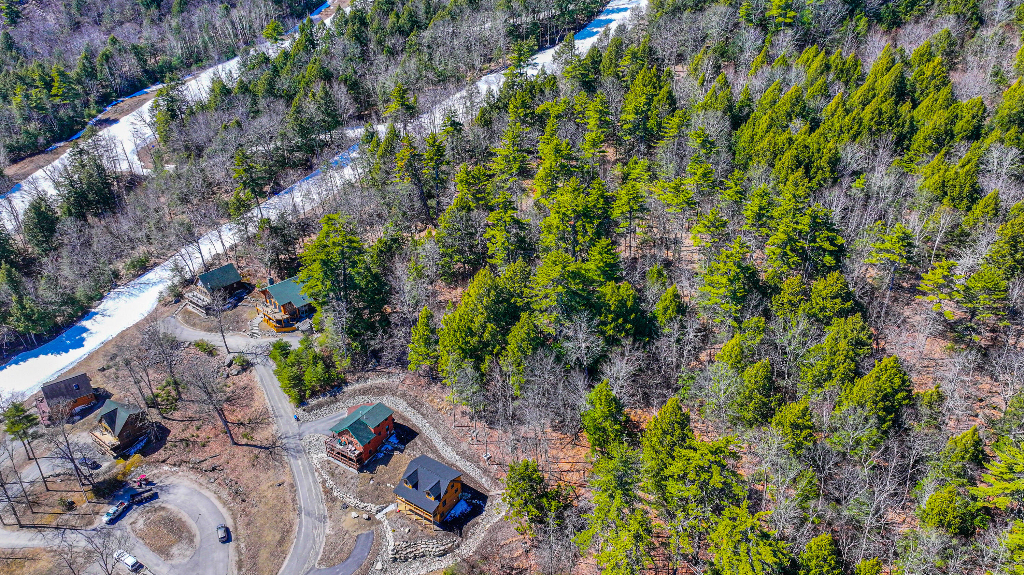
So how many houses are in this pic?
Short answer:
6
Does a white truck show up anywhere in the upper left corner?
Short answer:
No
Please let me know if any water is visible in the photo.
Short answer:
No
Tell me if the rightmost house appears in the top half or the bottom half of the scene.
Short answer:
bottom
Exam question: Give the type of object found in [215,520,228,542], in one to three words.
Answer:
vehicle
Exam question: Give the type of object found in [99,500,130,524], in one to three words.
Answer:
truck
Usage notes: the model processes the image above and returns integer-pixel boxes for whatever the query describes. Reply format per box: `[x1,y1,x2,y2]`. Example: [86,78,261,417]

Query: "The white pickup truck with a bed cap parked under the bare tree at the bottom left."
[114,550,143,572]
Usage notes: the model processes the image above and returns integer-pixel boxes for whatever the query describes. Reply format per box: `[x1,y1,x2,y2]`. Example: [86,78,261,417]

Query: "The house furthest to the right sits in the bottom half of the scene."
[392,455,463,530]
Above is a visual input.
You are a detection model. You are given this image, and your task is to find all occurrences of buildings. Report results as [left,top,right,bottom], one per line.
[87,399,147,457]
[184,263,243,316]
[33,372,96,429]
[256,274,320,331]
[392,455,463,530]
[325,402,396,475]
